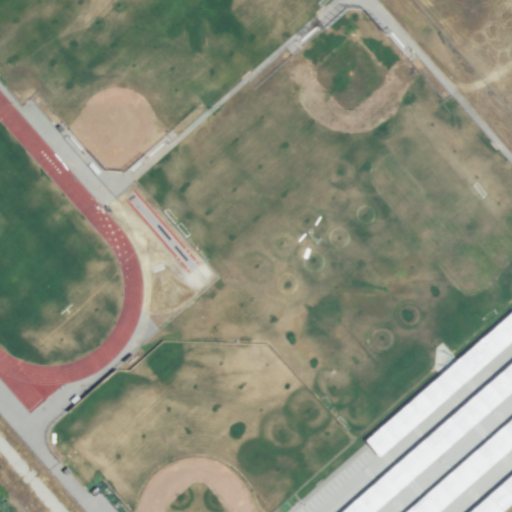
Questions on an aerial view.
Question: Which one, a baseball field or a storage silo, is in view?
baseball field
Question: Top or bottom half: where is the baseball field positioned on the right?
top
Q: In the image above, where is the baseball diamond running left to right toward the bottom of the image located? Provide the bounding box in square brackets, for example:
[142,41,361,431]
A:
[137,457,254,512]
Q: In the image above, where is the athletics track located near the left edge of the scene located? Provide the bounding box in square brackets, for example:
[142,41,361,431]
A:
[0,90,143,412]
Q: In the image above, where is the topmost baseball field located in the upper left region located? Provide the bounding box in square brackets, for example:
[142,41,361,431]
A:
[66,87,167,170]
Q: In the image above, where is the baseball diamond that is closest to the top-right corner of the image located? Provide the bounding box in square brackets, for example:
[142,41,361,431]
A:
[287,34,416,133]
